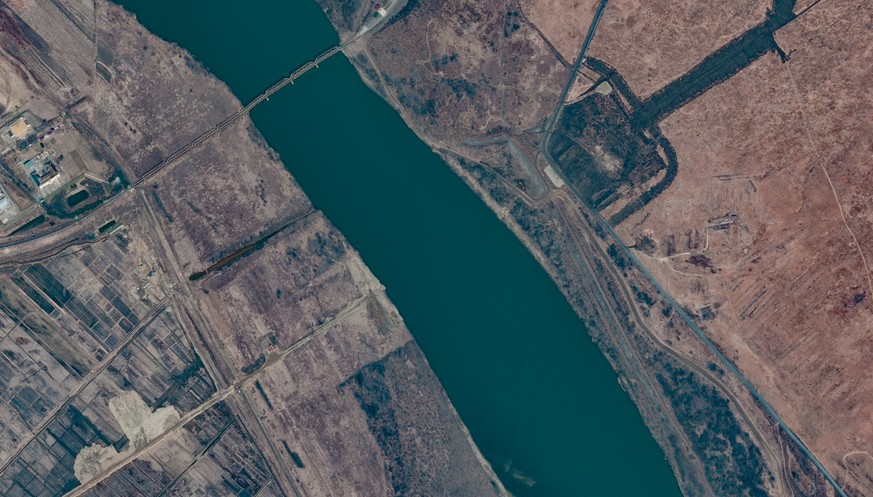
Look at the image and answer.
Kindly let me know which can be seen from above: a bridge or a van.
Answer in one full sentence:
Of the two, only a bridge appears.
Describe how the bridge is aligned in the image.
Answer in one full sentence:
What the image shows is the bridge lying at an angle.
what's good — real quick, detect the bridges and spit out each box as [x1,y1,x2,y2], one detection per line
[130,43,346,188]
